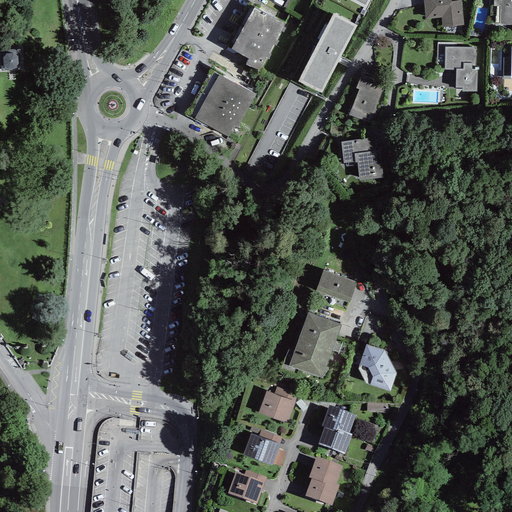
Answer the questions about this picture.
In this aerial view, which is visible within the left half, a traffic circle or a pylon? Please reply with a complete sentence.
Looking within the left half, you will find a traffic circle.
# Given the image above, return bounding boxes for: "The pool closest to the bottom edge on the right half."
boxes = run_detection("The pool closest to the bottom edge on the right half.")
[412,89,440,104]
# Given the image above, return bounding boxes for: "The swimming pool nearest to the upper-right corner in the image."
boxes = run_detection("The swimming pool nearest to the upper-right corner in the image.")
[474,6,488,30]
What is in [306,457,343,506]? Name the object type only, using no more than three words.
house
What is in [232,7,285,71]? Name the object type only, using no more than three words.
building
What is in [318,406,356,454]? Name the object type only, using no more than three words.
house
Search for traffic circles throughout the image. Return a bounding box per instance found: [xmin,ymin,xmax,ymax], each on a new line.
[83,76,142,134]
